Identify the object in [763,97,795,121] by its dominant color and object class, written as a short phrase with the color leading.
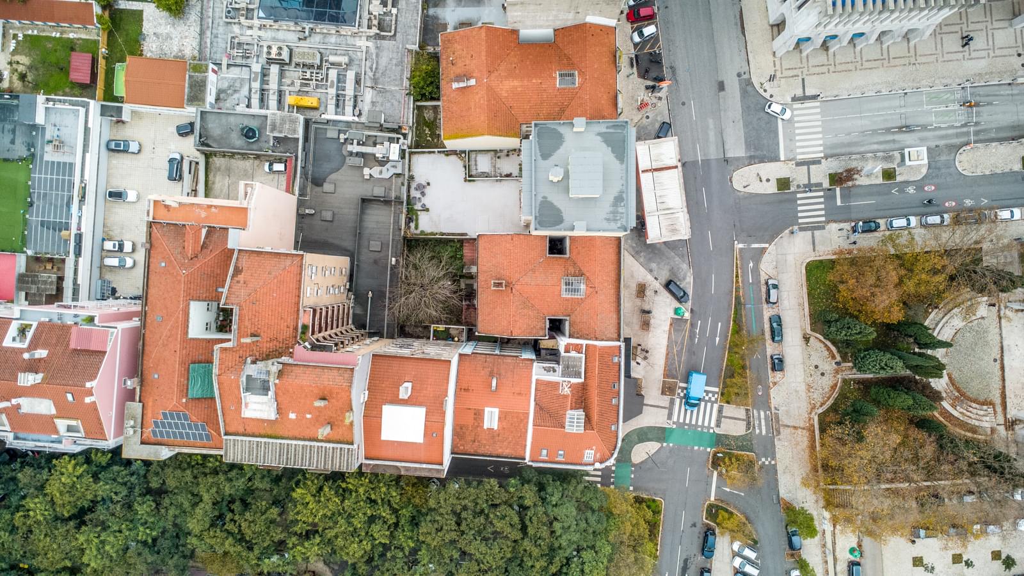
white car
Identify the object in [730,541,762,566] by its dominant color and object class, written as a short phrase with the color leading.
white car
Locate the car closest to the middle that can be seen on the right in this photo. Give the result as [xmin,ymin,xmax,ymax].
[665,276,691,306]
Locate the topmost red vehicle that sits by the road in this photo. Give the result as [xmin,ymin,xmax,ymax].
[627,4,658,21]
